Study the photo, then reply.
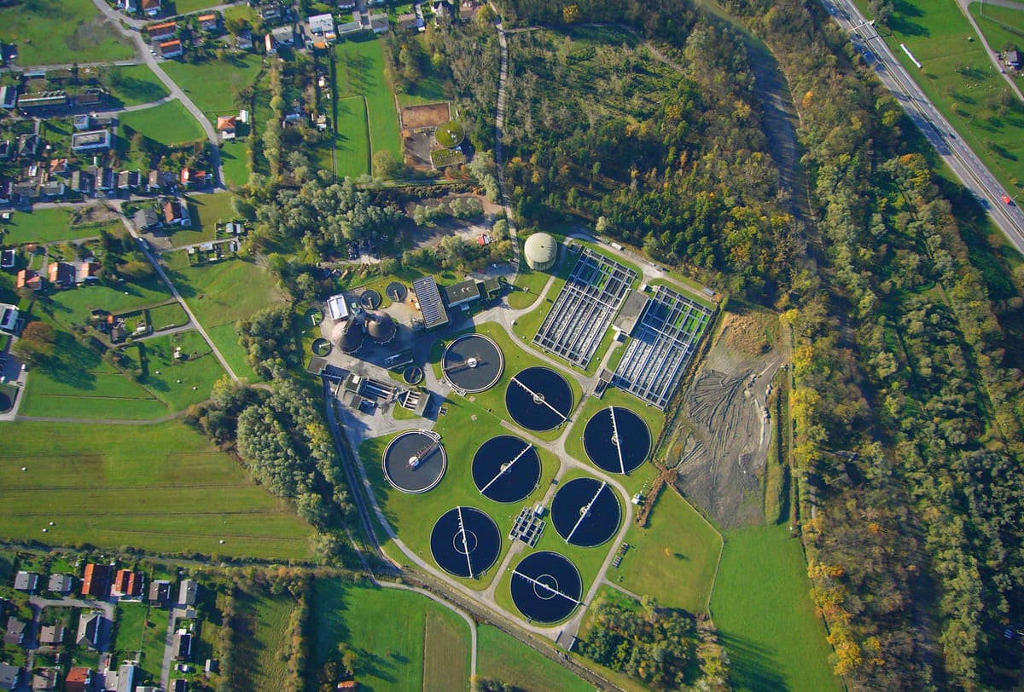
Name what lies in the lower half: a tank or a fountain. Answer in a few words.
tank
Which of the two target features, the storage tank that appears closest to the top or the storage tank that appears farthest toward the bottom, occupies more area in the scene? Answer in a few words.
the storage tank that appears farthest toward the bottom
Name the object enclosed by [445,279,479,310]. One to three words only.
building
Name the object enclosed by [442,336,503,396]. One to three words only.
storage tank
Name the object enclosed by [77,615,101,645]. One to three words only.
house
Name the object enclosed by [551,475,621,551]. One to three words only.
storage tank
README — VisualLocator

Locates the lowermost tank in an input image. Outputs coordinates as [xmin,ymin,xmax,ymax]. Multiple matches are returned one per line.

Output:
[509,552,585,625]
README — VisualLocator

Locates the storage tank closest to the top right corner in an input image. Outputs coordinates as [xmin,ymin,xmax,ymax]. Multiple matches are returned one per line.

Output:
[526,236,559,274]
